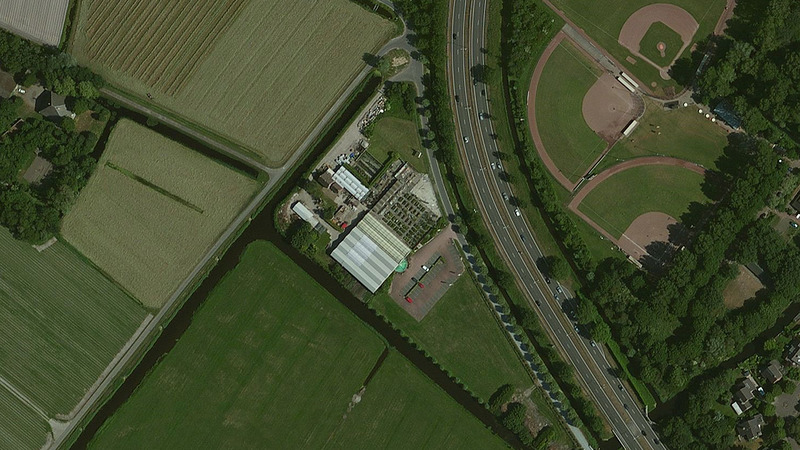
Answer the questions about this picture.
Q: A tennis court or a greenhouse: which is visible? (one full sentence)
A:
Visible in the photo is a greenhouse.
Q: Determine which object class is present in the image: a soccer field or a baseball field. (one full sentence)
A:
It is a baseball field that can be seen here.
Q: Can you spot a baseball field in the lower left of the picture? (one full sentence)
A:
No, looking in the lower left of the picture, there is no baseball field.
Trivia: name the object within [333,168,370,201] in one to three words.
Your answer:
greenhouse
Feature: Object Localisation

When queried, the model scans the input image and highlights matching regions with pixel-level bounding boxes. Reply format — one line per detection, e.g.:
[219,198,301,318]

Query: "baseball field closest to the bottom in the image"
[569,157,719,271]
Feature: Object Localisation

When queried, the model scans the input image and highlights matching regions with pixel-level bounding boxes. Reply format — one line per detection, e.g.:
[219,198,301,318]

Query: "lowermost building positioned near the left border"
[24,155,52,184]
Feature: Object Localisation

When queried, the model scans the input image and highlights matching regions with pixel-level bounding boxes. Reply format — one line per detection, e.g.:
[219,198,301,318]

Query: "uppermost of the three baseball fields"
[548,0,736,98]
